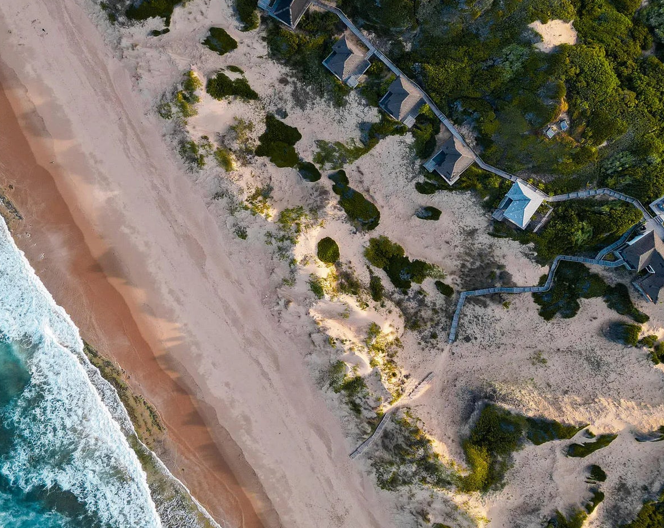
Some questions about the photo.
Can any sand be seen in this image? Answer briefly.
Yes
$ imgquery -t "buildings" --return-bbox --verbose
[257,0,313,31]
[377,77,427,130]
[421,134,475,187]
[322,35,372,92]
[607,228,664,307]
[490,180,554,233]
